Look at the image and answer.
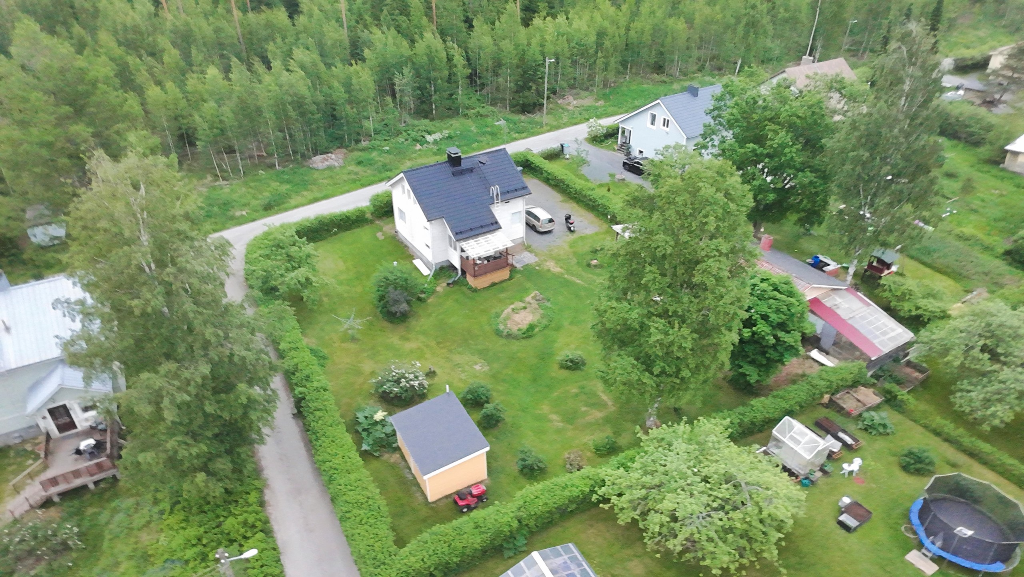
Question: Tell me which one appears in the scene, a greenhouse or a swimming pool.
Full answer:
The image shows a greenhouse.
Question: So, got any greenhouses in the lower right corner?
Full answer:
Yes, looking in the lower right corner, one can make out a greenhouse.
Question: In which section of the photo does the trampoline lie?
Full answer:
The trampoline is located in the bottom right region of the scene.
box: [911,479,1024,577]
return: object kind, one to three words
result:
trampoline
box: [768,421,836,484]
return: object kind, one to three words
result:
greenhouse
